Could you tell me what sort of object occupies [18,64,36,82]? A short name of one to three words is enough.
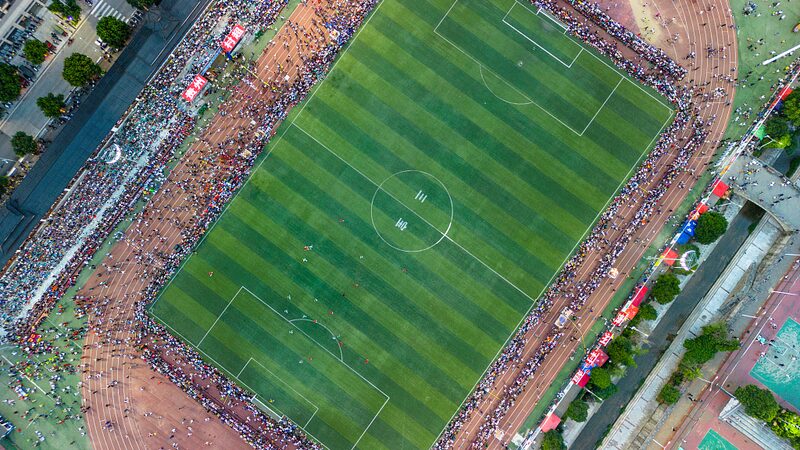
car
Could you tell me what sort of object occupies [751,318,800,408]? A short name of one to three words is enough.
basketball court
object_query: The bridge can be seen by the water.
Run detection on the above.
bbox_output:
[728,150,800,230]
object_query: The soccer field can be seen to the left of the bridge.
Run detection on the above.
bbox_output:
[137,0,687,450]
